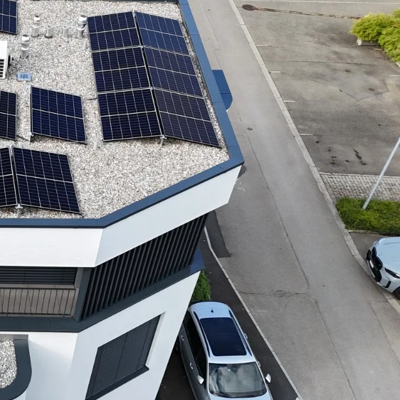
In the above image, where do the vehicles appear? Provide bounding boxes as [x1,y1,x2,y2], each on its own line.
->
[175,302,270,400]
[361,236,400,295]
